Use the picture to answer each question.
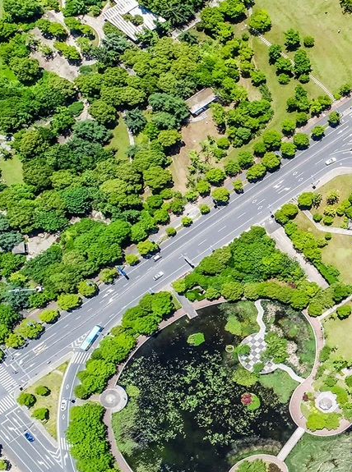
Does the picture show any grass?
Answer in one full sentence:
Yes, grass shows up in the scene.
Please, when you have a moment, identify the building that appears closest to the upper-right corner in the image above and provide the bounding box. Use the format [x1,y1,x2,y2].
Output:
[183,86,218,123]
